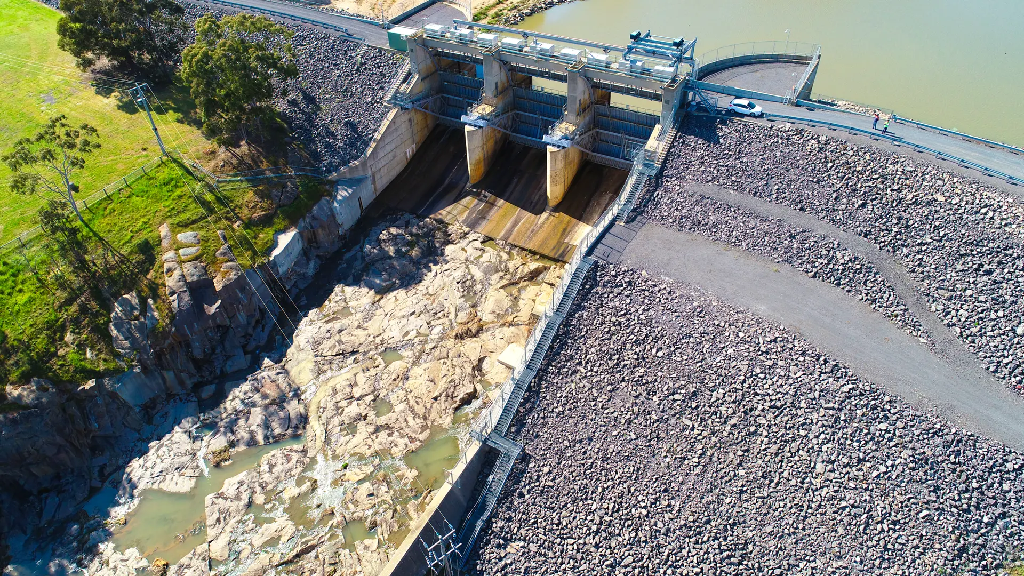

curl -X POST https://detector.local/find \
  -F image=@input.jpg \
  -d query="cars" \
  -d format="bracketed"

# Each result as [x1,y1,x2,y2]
[725,97,763,117]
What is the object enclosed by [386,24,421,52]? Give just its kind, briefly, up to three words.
shed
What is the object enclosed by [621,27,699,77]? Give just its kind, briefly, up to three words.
container crane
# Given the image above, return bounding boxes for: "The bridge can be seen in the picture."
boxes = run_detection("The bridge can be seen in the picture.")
[403,15,695,105]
